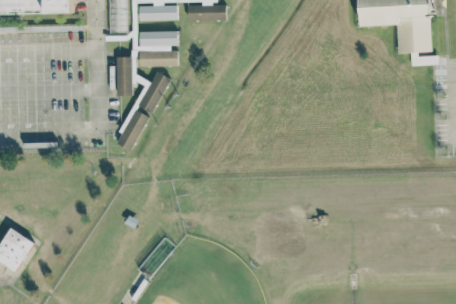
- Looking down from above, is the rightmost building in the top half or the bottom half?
top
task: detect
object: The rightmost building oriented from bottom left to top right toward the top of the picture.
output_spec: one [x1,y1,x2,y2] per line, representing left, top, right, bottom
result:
[138,72,172,114]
